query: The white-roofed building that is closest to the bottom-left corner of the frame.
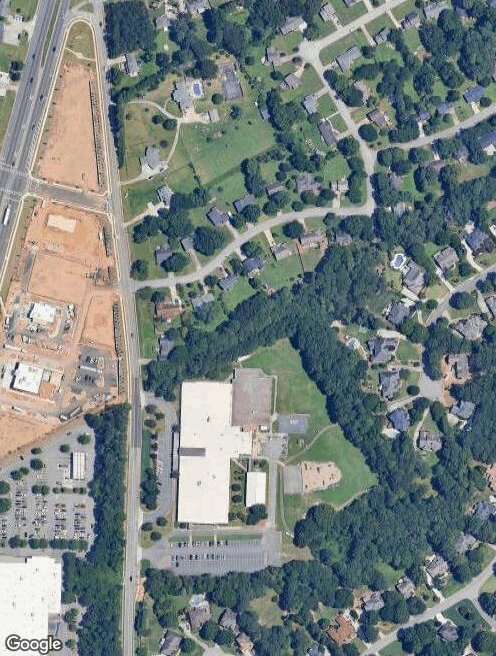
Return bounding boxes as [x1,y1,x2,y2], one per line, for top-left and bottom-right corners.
[0,557,62,656]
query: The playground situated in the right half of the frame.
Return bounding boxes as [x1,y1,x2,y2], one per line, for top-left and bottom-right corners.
[303,461,341,493]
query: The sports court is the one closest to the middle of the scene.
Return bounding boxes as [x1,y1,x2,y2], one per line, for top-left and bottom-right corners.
[273,415,307,433]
